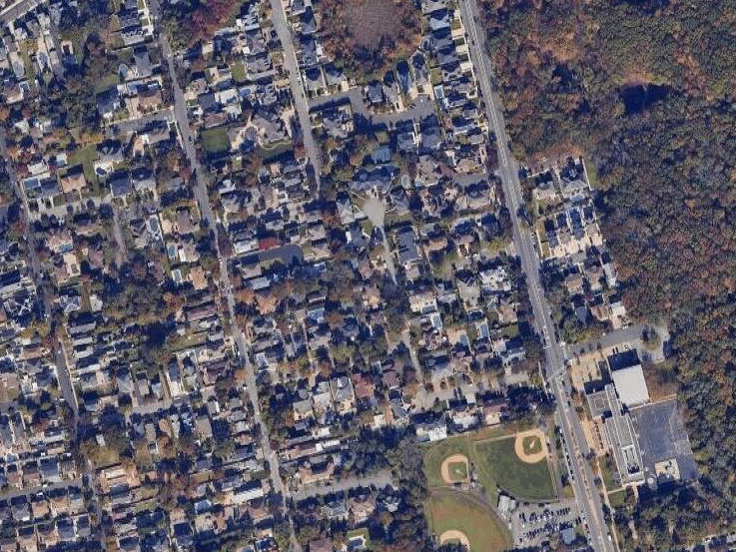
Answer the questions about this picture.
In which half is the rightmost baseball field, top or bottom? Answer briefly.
bottom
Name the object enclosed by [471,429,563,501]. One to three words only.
baseball field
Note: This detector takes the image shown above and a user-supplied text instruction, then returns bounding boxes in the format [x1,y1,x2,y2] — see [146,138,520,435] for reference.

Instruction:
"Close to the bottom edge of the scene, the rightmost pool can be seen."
[347,534,365,550]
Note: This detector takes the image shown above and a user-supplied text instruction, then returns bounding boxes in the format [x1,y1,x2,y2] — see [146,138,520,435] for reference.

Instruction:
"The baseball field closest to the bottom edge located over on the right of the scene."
[425,491,513,552]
